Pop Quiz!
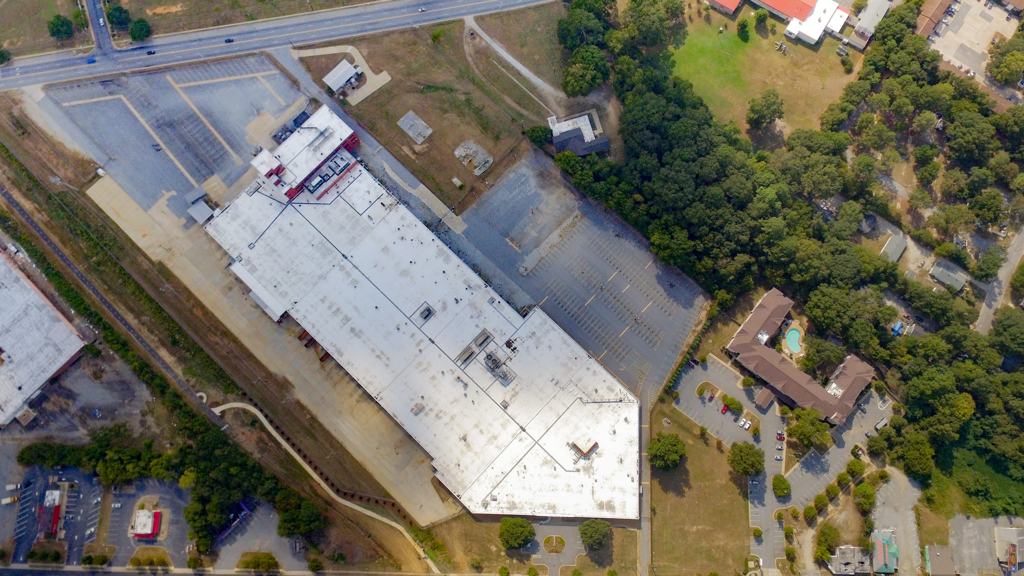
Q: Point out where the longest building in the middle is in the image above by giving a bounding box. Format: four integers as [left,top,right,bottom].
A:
[203,163,639,520]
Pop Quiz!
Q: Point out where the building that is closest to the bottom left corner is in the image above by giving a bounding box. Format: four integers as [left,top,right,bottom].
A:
[36,489,66,541]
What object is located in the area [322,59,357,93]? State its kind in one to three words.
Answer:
shed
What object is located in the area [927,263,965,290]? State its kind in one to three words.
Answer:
house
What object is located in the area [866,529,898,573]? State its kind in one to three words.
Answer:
building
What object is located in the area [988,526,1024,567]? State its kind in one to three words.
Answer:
building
